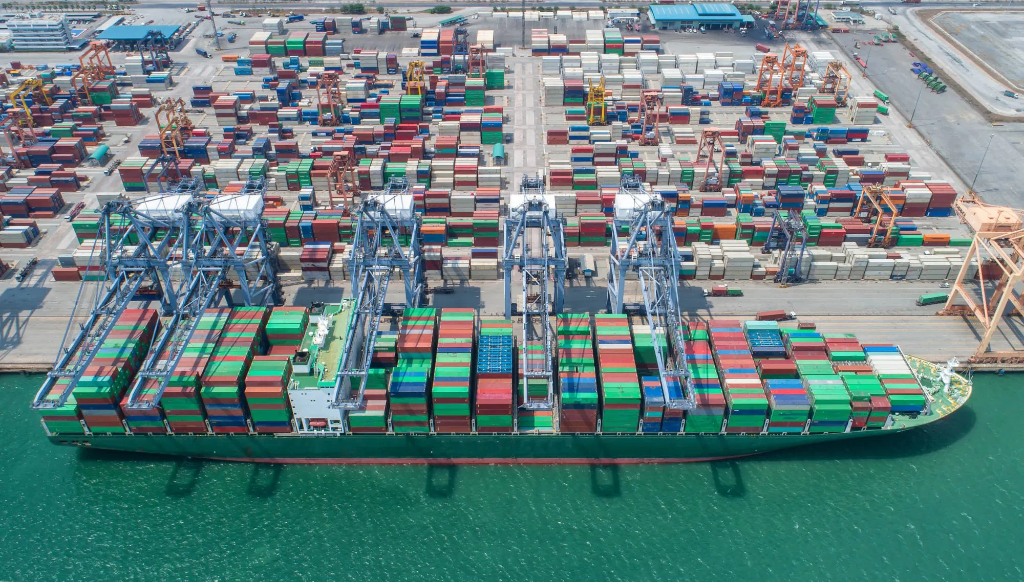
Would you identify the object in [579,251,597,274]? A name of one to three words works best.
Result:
shed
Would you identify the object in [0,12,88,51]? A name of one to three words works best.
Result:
building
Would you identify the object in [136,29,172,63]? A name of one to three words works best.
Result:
crane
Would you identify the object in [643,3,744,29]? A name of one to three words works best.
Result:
building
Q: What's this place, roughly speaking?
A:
port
